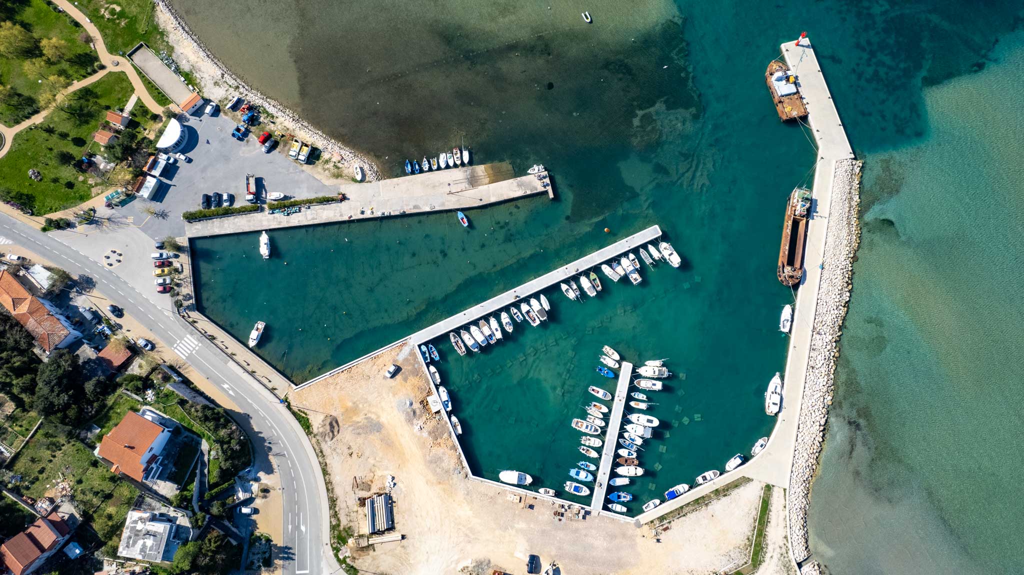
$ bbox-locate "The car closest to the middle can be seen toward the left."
[384,363,399,380]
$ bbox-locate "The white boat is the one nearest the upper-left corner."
[226,95,240,109]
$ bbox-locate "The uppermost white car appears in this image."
[203,101,217,116]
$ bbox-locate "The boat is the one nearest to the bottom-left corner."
[248,320,266,347]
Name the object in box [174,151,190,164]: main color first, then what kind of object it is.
white vehicle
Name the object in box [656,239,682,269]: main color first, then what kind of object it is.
white boat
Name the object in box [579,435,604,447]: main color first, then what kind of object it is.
white boat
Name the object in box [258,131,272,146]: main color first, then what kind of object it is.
red car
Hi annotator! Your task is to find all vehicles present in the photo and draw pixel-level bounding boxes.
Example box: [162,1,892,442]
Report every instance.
[152,268,169,277]
[235,506,257,516]
[529,553,537,575]
[155,285,173,293]
[243,173,257,201]
[174,151,190,164]
[297,143,310,162]
[212,192,220,207]
[157,151,176,166]
[288,140,301,159]
[244,111,256,125]
[5,253,23,262]
[107,304,123,318]
[223,192,231,207]
[137,337,154,351]
[262,137,276,154]
[258,131,272,146]
[148,251,169,260]
[79,306,98,323]
[200,192,210,208]
[153,277,173,286]
[153,259,172,267]
[152,241,170,249]
[203,101,217,116]
[384,363,399,380]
